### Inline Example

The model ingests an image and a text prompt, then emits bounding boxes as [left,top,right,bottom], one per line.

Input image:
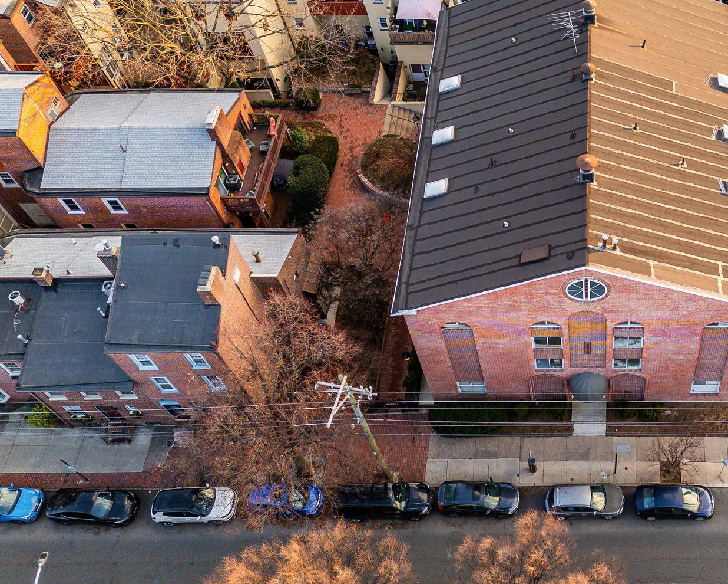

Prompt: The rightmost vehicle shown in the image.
[635,481,715,523]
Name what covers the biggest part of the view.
buildings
